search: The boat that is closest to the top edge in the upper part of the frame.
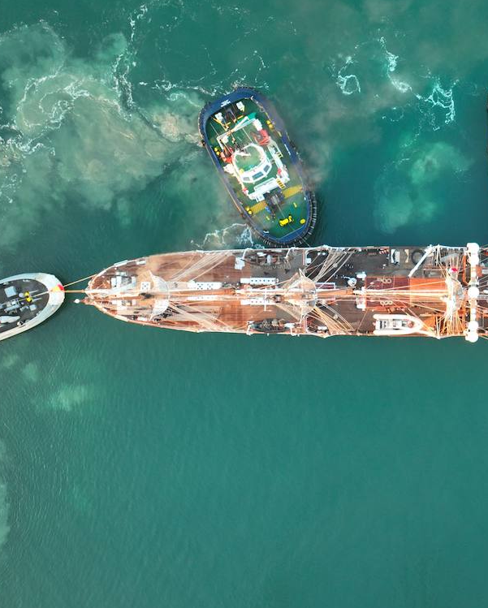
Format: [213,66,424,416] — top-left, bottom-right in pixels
[198,89,317,247]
